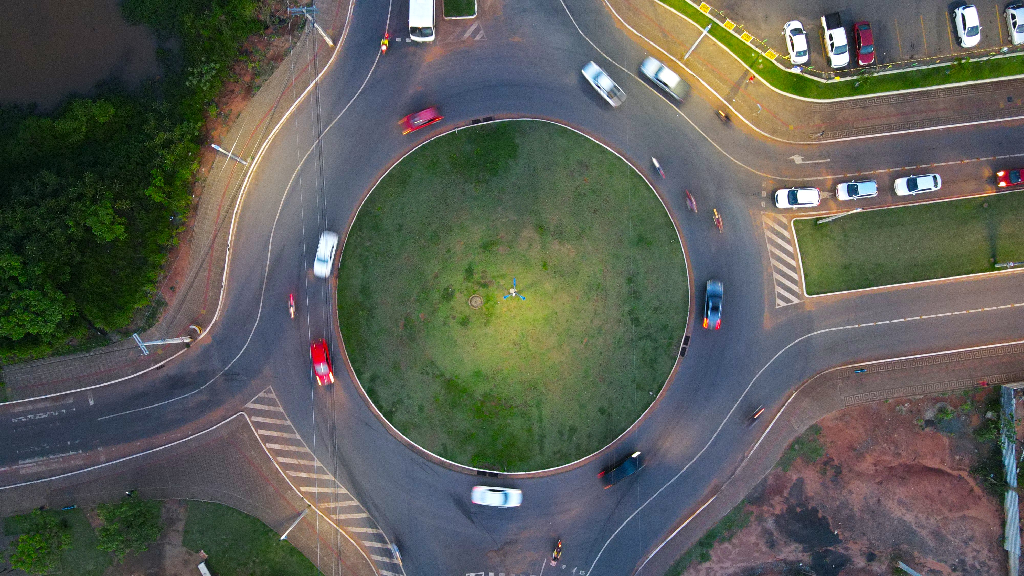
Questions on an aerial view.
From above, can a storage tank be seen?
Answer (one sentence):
No, no storage tank is visible in the view.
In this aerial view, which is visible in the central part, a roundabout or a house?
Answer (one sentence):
The one visible in the central part is a roundabout.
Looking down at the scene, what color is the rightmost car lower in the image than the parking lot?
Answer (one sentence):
The rightmost car lower in the image than the parking lot is red.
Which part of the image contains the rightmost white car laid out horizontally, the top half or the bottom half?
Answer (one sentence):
Seen from above, the rightmost white car laid out horizontally lies in the top half of the view.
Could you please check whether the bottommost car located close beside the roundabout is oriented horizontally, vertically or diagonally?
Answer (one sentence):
I'd say the bottommost car located close beside the roundabout is aligned horizontally in the picture.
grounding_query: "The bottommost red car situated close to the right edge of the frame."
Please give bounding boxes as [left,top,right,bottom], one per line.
[994,165,1024,187]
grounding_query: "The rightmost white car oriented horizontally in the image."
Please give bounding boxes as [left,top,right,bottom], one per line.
[892,173,943,197]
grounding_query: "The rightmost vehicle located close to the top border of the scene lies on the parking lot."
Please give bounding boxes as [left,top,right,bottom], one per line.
[1000,2,1024,48]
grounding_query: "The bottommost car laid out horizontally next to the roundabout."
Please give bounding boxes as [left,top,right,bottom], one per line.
[472,485,521,509]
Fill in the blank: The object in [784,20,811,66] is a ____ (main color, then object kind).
white car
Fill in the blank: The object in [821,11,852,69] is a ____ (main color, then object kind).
white vehicle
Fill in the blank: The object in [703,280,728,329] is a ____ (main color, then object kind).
blue car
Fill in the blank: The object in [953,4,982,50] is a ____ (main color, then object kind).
white car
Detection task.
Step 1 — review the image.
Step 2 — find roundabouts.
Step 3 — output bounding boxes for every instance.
[329,112,697,480]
